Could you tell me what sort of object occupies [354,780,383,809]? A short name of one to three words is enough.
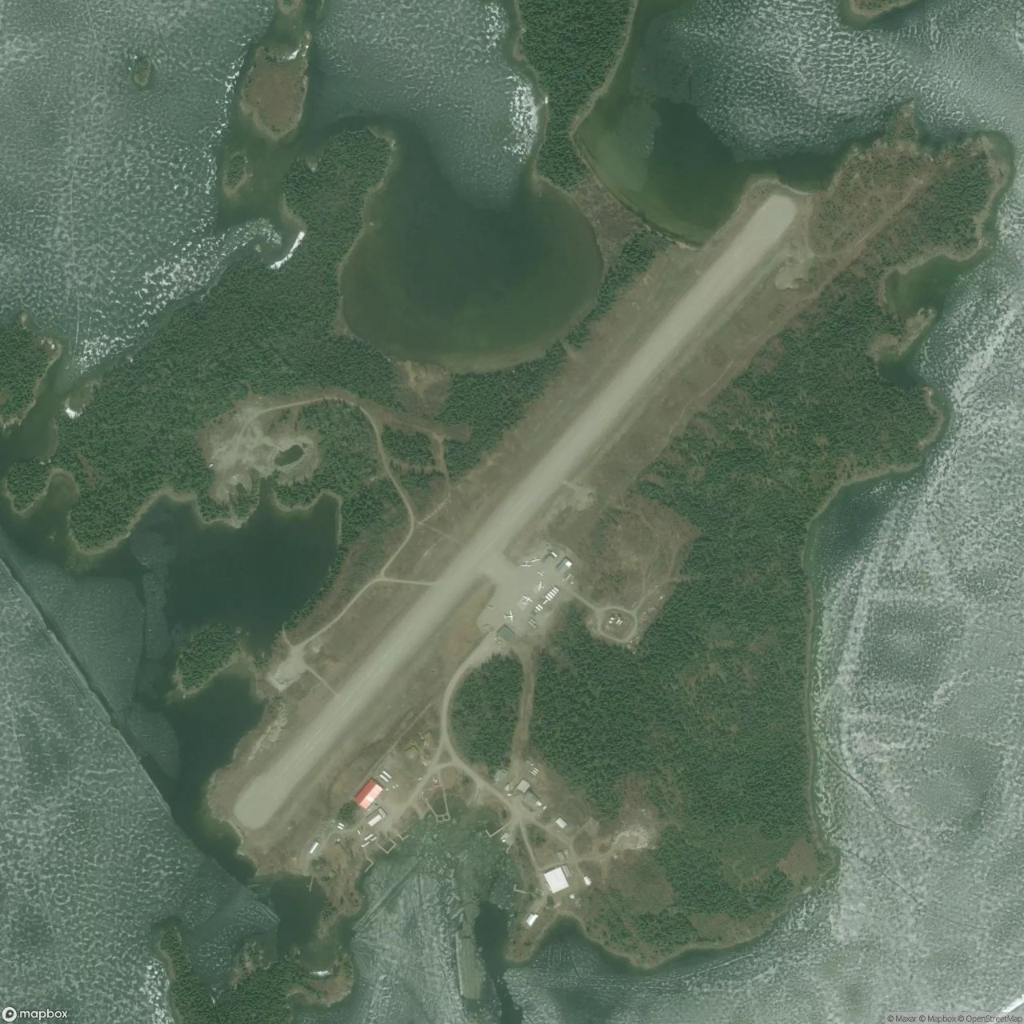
building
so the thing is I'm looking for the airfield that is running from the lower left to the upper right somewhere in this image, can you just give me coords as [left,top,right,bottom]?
[232,194,798,829]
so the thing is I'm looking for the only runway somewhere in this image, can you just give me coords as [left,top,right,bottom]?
[232,194,798,829]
